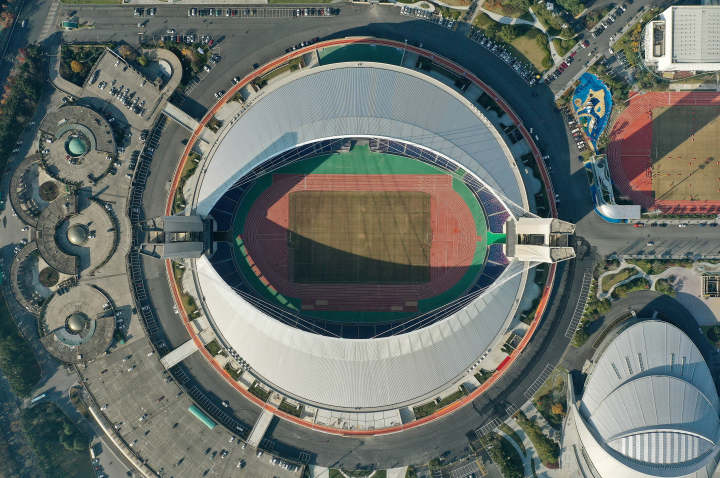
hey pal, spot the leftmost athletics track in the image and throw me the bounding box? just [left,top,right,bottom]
[243,174,480,311]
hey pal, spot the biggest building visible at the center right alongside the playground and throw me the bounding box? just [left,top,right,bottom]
[586,155,641,222]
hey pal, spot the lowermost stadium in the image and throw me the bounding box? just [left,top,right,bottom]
[563,318,720,478]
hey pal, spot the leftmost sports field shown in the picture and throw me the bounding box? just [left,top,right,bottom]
[288,192,432,285]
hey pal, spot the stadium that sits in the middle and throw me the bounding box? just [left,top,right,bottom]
[139,40,576,433]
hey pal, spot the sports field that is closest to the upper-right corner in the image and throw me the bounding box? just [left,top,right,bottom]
[652,106,720,200]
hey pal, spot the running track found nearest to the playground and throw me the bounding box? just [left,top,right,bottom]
[608,91,720,214]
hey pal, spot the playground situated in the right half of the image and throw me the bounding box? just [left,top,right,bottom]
[572,72,612,153]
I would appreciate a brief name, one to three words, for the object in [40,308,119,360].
building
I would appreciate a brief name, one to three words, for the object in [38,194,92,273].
building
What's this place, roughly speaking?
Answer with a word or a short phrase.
sports ground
